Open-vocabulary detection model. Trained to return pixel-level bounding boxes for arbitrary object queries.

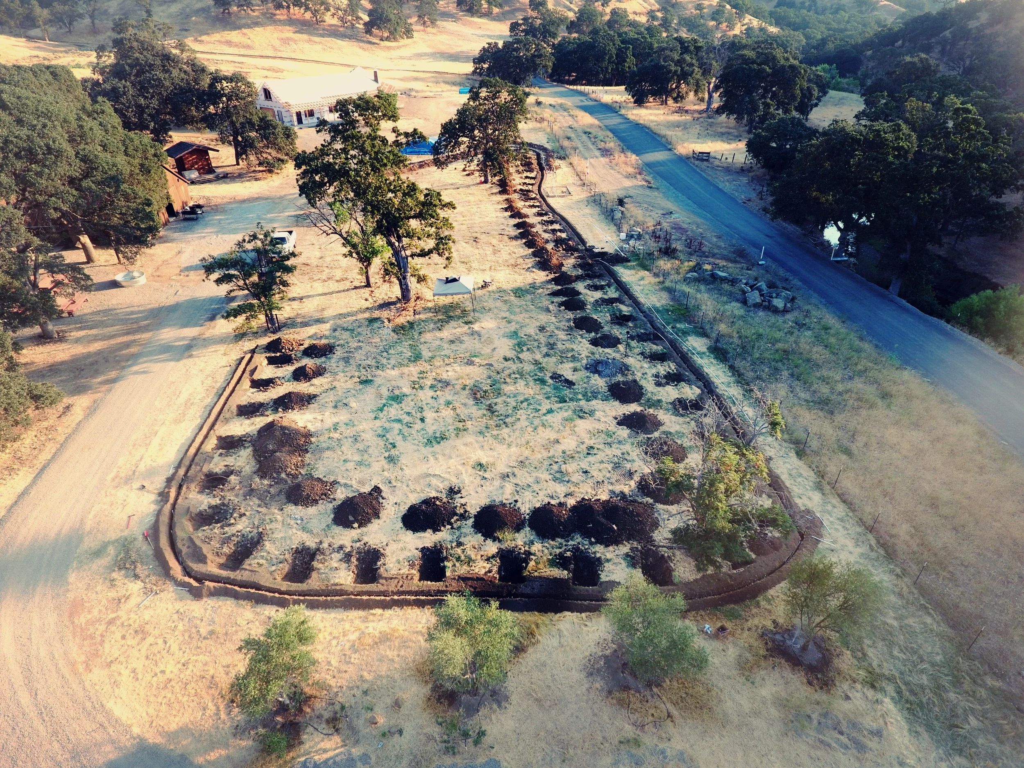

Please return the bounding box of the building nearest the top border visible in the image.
[260,39,390,128]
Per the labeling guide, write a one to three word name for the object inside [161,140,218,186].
building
